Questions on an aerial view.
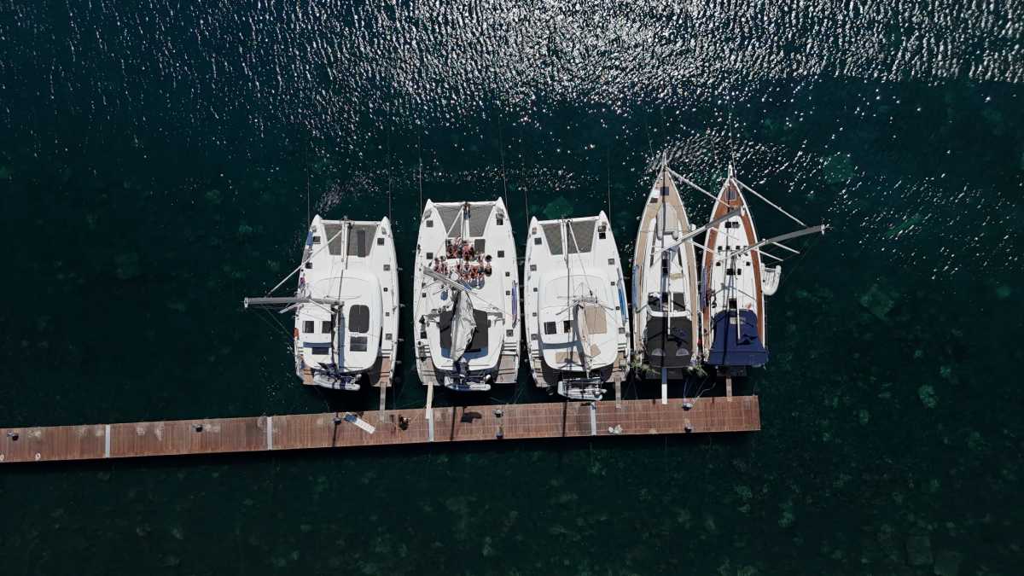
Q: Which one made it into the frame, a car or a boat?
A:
boat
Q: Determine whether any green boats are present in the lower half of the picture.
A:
No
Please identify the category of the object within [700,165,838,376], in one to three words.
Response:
boat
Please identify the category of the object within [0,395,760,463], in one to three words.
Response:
pier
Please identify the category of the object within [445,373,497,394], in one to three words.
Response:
boat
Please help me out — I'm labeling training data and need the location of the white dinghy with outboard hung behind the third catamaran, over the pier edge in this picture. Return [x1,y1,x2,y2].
[560,377,612,402]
